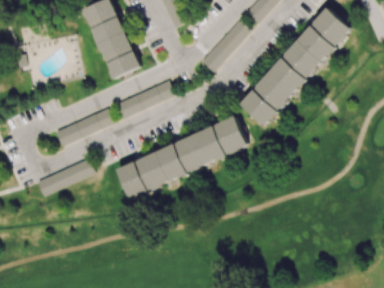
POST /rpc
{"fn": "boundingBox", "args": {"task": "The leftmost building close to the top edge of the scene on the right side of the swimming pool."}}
[83,0,141,82]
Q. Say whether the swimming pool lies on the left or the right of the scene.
left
